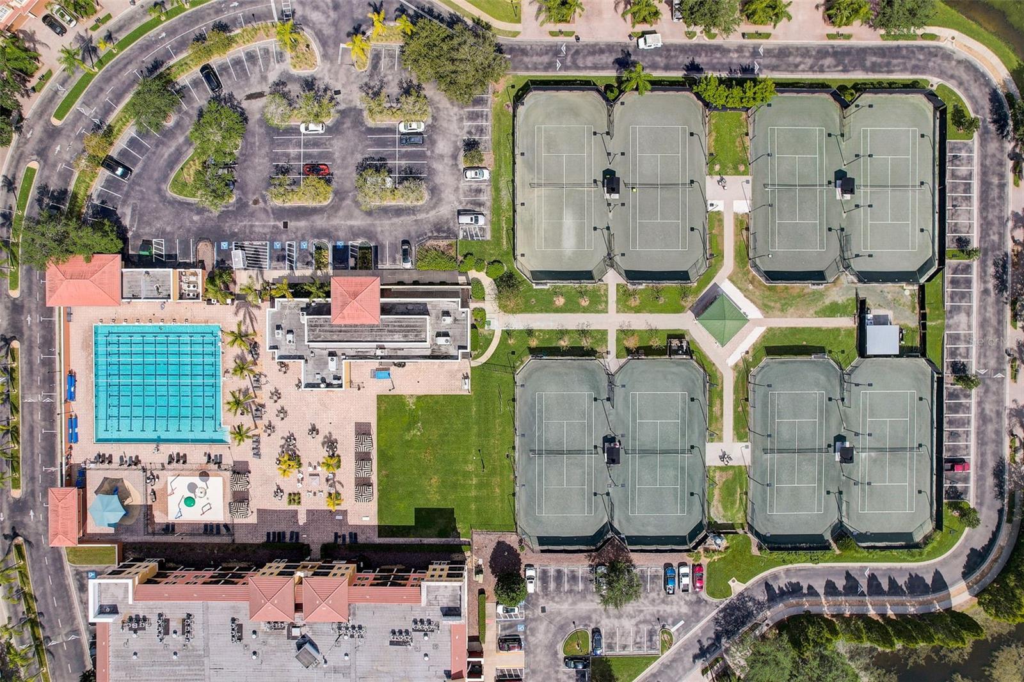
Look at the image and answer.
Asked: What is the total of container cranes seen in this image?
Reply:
0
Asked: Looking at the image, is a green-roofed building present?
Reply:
Yes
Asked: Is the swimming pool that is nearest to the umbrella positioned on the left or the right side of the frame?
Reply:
left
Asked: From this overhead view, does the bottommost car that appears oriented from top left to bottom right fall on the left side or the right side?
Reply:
left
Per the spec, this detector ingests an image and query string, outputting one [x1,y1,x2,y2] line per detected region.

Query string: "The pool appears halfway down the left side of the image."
[92,323,230,444]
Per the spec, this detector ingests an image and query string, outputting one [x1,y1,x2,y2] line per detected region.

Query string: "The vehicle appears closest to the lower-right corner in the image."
[945,461,971,473]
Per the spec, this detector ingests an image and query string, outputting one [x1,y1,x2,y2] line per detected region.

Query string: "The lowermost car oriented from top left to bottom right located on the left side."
[103,157,131,178]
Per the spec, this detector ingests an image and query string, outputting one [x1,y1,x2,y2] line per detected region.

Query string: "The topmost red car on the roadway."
[305,163,329,175]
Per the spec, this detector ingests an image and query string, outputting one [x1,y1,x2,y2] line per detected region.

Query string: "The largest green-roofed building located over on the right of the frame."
[696,293,750,347]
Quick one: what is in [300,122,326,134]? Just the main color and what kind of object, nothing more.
white vehicle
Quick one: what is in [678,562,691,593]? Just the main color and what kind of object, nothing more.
white vehicle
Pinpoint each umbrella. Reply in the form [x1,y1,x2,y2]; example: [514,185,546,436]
[89,495,127,526]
